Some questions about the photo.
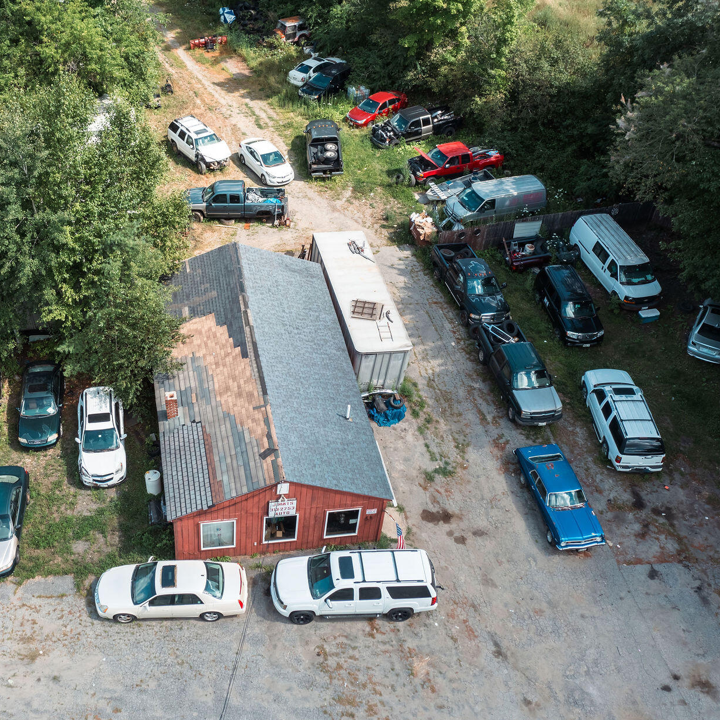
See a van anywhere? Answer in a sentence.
Yes, there is a van in the image.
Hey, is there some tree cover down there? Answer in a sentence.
Yes, tree cover shows up in the scene.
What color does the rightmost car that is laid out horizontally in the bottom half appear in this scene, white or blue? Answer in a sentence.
From above, the rightmost car that is laid out horizontally in the bottom half appears white.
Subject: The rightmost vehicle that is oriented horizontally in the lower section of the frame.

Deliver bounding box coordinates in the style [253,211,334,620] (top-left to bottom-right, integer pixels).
[270,545,438,619]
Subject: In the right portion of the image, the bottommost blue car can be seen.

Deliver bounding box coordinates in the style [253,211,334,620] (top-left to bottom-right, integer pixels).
[508,443,600,551]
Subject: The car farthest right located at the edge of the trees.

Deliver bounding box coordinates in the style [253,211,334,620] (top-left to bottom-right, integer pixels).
[676,292,720,366]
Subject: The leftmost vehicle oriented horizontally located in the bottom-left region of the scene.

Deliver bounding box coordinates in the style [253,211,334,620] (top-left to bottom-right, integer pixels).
[92,558,248,625]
